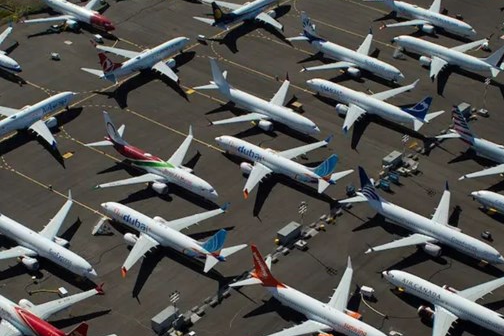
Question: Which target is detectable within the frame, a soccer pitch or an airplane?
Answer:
airplane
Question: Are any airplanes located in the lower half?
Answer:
Yes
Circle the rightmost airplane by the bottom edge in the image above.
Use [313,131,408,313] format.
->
[384,270,504,336]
